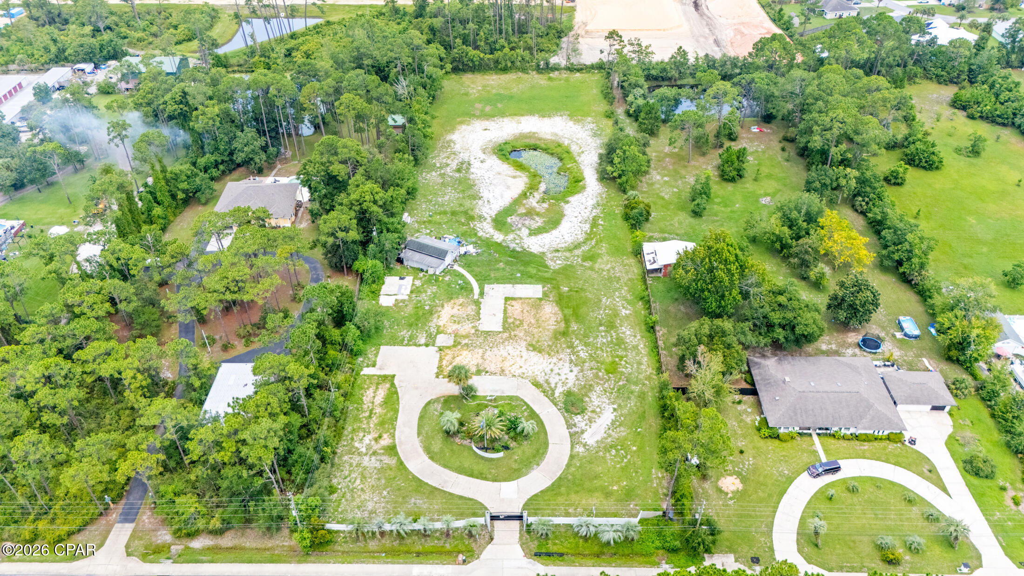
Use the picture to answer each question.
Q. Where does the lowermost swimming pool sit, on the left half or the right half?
right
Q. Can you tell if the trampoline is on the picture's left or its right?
right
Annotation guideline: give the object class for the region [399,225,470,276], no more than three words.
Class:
building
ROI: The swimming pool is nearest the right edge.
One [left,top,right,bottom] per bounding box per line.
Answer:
[898,317,920,339]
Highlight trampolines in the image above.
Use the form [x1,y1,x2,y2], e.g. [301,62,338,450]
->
[859,331,882,354]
